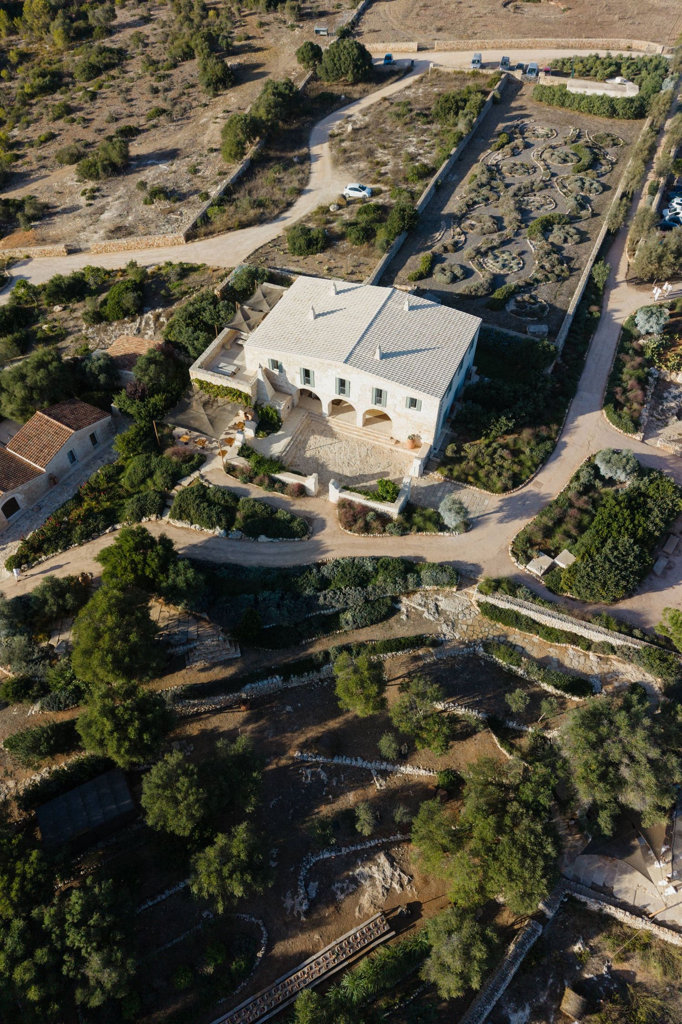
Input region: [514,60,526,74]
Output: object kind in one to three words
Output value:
vehicle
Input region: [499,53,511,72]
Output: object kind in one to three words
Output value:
vehicle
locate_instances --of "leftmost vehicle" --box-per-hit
[345,184,371,199]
